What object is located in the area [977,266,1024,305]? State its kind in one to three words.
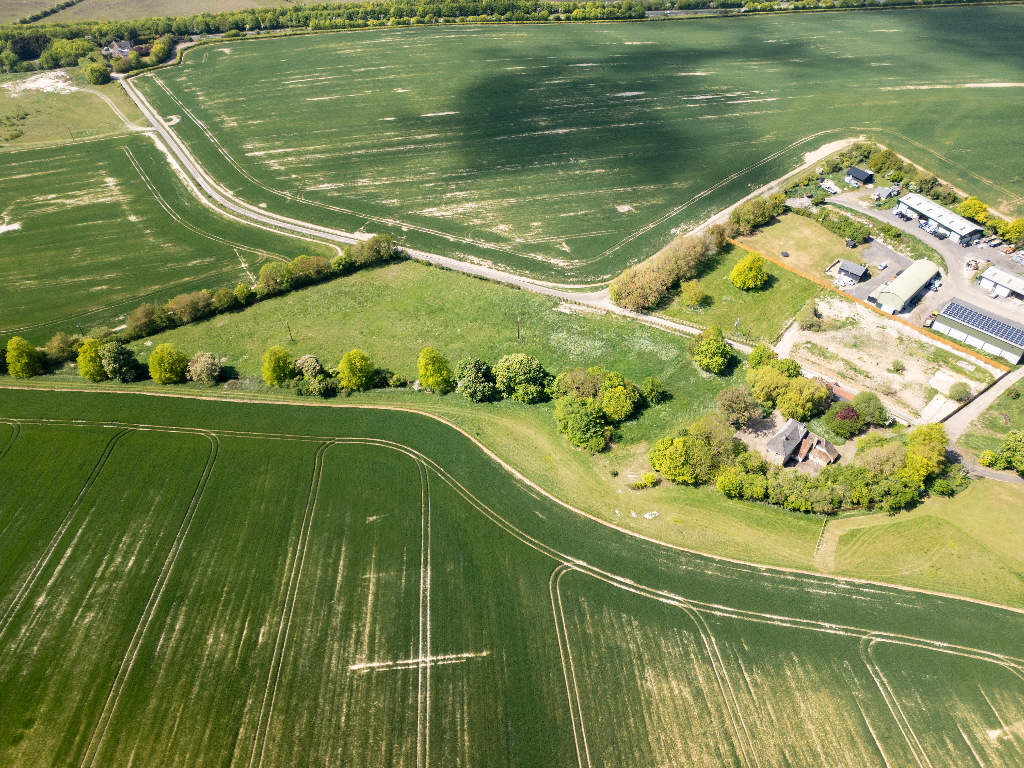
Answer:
shed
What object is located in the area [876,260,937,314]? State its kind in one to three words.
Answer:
barn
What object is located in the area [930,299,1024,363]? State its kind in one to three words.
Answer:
barn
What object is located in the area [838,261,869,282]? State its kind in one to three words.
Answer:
building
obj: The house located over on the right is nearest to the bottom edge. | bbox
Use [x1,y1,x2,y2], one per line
[763,419,844,468]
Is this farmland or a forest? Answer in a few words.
farmland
